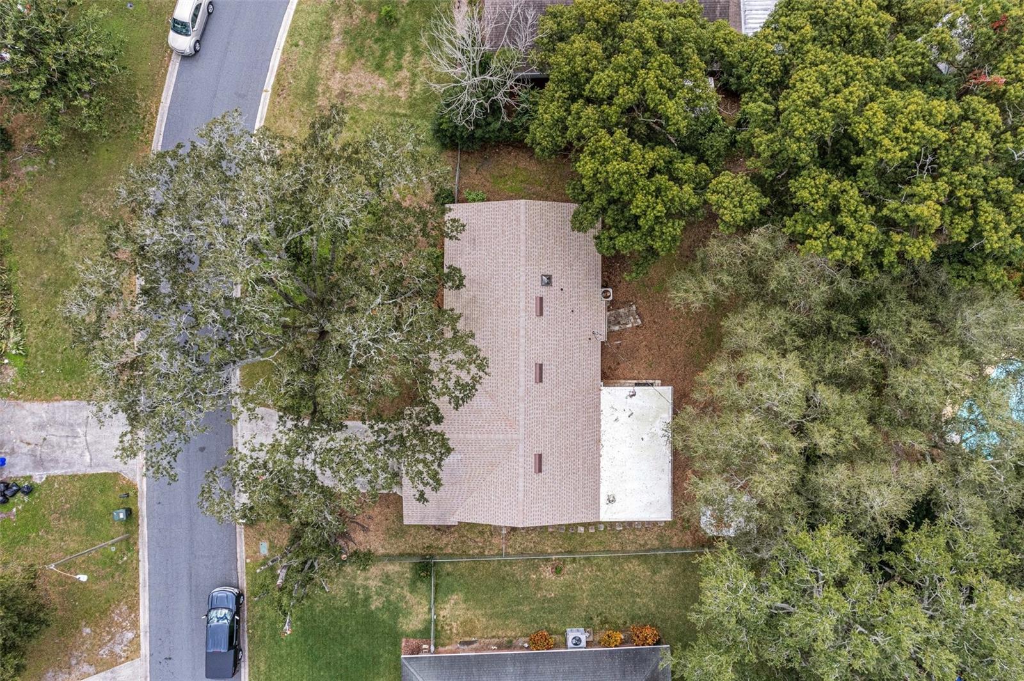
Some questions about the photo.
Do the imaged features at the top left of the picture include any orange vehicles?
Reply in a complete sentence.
No, I can find no orange vehicle at the top left of the picture.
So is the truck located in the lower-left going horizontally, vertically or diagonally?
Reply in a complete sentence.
The truck located in the lower-left has been laid out vertically relative to the frame.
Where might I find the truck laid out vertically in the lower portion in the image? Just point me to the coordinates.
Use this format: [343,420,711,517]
[202,586,244,680]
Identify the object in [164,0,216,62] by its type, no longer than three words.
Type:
car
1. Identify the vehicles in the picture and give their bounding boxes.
[164,0,216,62]
[202,586,244,680]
